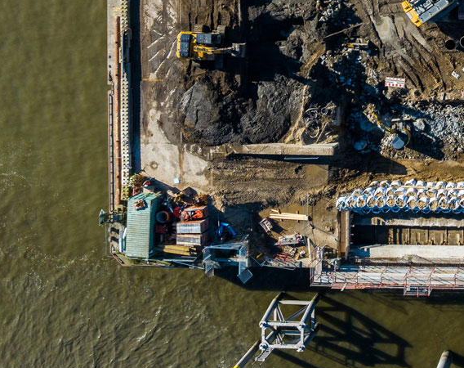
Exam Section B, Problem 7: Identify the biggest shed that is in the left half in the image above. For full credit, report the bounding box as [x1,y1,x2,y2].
[124,191,165,258]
